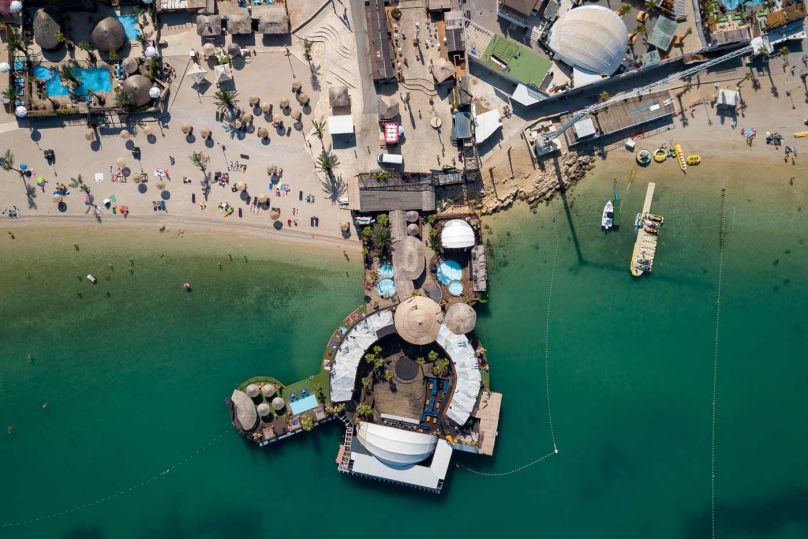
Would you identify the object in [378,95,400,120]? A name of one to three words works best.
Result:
shed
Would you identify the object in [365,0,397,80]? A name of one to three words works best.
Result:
building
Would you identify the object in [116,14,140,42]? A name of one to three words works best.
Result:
swimming pool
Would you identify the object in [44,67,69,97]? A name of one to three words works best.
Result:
swimming pool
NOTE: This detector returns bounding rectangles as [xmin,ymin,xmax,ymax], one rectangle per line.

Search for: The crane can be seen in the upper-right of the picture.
[540,44,757,144]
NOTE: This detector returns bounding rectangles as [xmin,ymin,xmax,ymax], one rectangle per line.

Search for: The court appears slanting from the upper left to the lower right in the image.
[466,17,552,89]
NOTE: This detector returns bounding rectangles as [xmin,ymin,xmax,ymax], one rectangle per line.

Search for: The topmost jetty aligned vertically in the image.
[632,182,664,275]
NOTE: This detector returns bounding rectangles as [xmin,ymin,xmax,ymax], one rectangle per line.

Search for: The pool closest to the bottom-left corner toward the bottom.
[290,394,319,415]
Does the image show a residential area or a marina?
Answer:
marina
